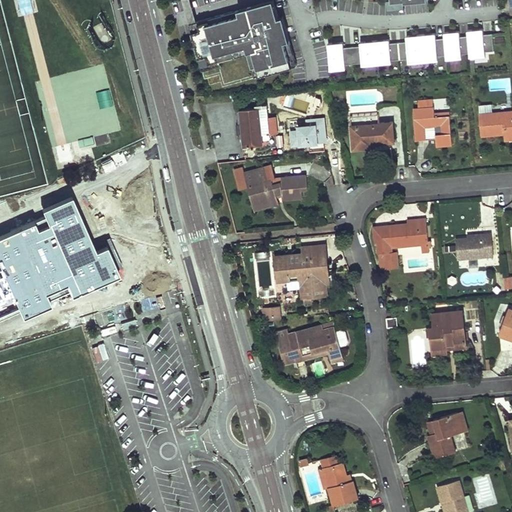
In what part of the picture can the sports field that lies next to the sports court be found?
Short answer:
top left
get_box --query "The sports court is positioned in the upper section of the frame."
[35,64,121,148]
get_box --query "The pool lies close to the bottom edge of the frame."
[305,471,321,497]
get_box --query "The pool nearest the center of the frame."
[257,260,272,288]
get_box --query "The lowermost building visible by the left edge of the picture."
[0,198,122,320]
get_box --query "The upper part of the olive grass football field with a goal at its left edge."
[0,327,94,402]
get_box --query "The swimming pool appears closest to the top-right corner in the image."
[489,78,506,90]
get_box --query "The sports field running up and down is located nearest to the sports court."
[0,0,48,198]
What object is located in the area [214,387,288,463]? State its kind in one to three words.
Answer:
roundabout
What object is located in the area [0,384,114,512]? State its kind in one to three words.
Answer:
sports field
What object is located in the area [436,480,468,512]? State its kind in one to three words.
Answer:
house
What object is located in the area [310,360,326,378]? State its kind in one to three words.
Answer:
swimming pool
